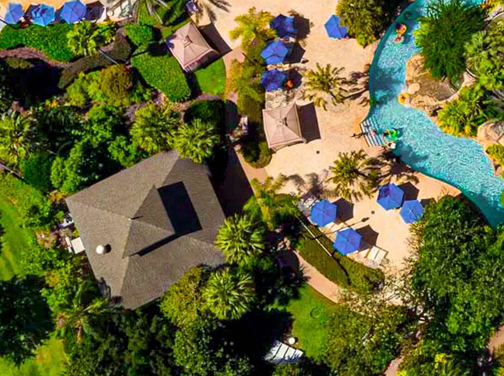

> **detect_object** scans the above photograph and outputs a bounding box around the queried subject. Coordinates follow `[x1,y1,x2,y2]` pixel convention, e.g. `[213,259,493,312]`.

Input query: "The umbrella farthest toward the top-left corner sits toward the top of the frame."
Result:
[5,4,30,25]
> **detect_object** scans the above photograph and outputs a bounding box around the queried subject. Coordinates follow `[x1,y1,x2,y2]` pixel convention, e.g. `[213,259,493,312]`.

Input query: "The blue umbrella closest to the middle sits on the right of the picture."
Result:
[310,200,338,225]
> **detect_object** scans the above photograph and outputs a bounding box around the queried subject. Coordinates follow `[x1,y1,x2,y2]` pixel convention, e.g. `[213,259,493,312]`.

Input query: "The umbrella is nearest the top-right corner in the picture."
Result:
[325,15,351,38]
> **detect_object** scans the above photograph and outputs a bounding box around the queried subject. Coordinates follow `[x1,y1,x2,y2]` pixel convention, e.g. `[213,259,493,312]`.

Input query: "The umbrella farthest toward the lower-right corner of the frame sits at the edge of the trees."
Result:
[400,200,423,224]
